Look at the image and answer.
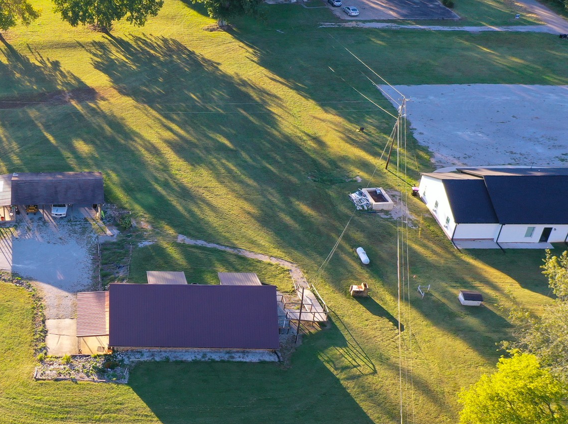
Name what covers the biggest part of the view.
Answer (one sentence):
The scene is dominated by grass.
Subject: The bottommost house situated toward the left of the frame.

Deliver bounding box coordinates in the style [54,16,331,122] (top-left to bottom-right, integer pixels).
[101,270,282,366]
